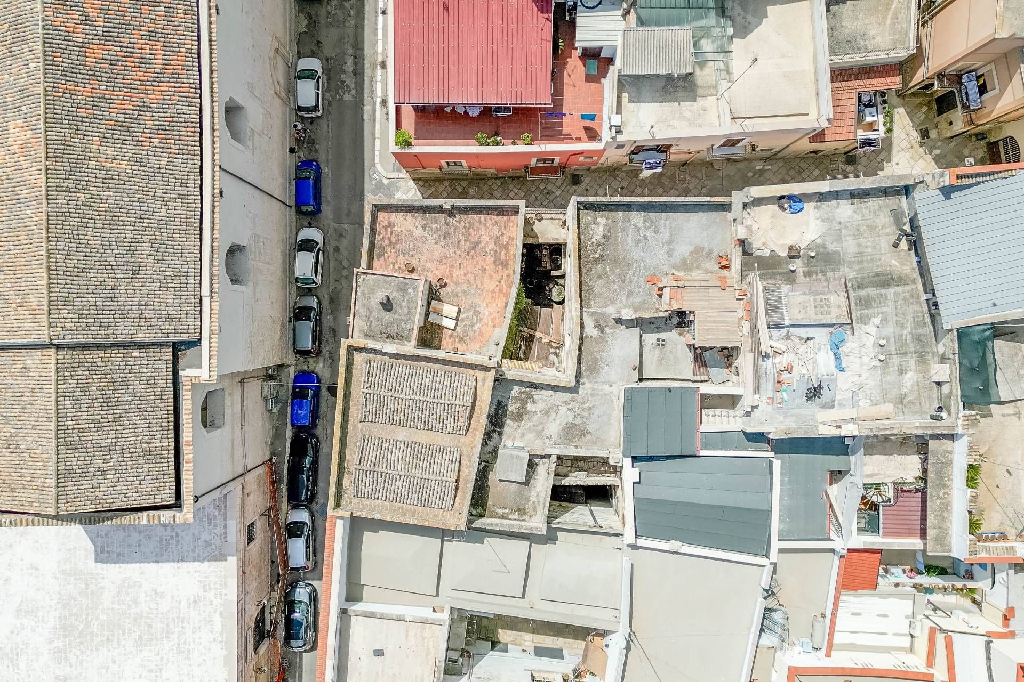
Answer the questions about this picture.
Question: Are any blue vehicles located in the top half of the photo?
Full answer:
Yes, a blue vehicle shows up in the top half of the photo.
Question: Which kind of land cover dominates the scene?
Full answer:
What you mostly see from above here is buildings.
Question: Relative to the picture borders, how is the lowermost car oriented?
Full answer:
The lowermost car runs from top to bottom in the image.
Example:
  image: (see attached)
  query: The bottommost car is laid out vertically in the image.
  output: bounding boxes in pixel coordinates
[281,580,316,654]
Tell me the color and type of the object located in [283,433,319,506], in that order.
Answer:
black car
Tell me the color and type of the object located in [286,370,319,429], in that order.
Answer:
blue car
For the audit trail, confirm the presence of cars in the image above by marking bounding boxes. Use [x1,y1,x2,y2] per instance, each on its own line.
[285,506,316,572]
[286,370,319,429]
[291,58,324,118]
[290,227,324,289]
[289,295,323,358]
[281,580,316,654]
[283,433,319,506]
[291,159,323,216]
